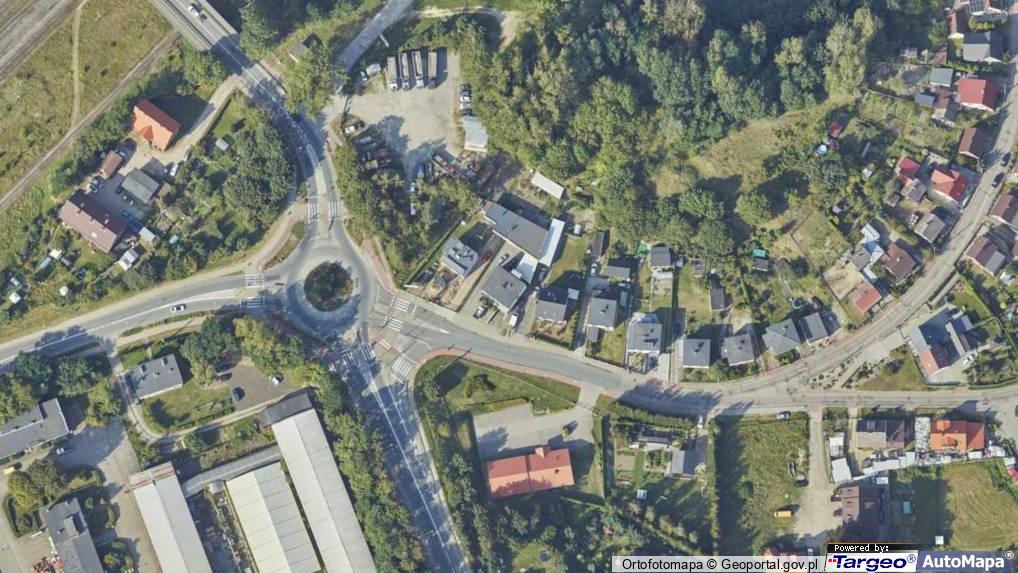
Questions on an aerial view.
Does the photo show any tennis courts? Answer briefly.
No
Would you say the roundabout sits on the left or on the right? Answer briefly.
left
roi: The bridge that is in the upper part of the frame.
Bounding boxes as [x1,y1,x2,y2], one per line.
[149,0,243,59]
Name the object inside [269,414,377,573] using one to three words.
building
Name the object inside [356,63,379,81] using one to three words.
vehicle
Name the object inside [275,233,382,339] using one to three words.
roundabout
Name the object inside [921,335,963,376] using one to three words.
house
